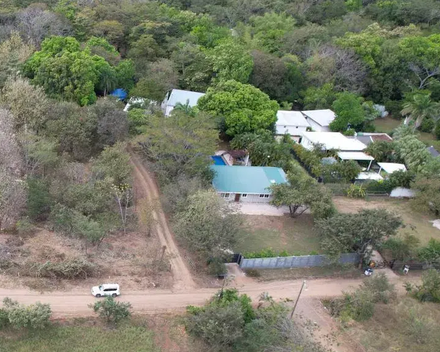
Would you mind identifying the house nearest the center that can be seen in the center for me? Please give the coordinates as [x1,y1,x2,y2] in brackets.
[203,163,287,204]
